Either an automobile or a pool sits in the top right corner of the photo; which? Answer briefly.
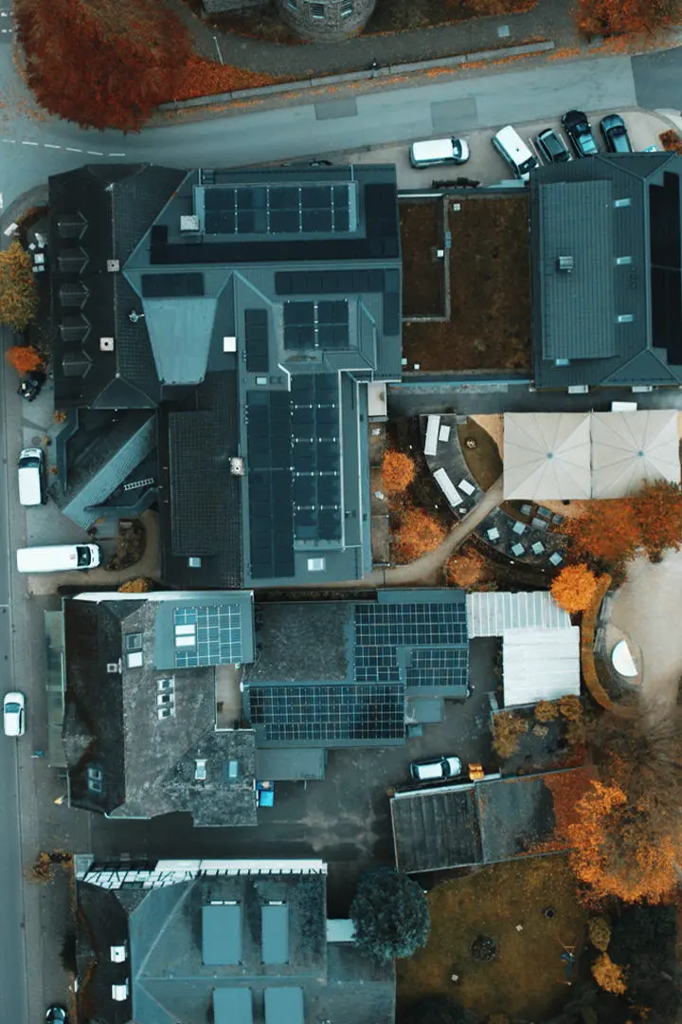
automobile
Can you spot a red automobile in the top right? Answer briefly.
No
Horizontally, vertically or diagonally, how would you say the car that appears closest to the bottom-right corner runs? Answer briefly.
horizontally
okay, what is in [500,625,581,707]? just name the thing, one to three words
shed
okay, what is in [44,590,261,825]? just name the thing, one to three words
house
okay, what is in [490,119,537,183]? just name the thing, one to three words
van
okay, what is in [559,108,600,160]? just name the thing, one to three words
car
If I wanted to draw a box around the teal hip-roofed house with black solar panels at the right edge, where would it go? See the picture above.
[528,154,682,393]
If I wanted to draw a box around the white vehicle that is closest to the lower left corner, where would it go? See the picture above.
[0,691,27,738]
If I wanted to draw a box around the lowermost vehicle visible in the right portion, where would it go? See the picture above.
[409,754,462,782]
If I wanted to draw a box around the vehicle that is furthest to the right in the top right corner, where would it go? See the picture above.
[599,109,631,155]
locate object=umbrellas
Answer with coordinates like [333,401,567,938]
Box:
[503,412,591,499]
[35,234,45,249]
[592,410,681,498]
